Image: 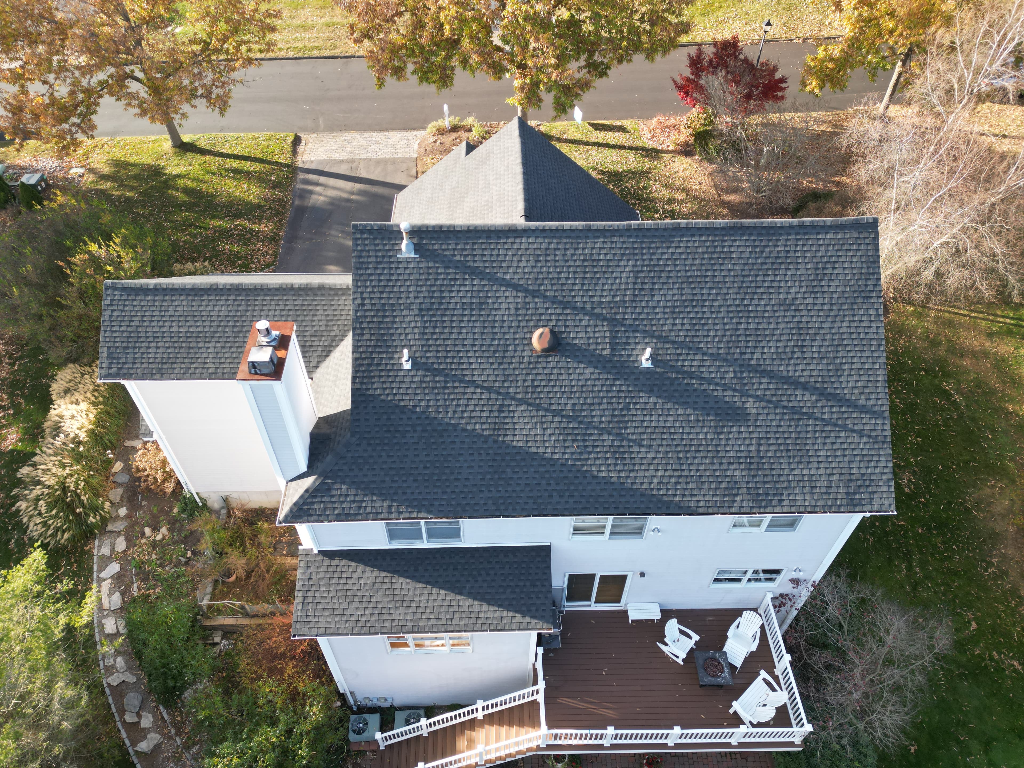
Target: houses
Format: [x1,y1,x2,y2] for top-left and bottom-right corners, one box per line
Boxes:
[98,118,900,714]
